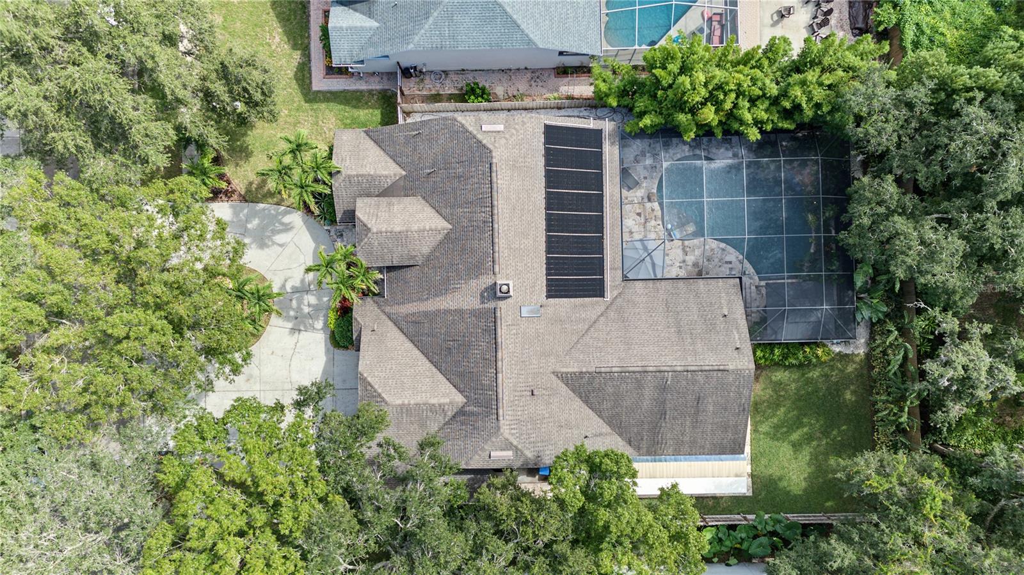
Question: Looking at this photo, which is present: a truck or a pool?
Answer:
pool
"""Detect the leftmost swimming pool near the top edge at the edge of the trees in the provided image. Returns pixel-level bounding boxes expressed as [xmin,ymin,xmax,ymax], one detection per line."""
[603,0,703,56]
